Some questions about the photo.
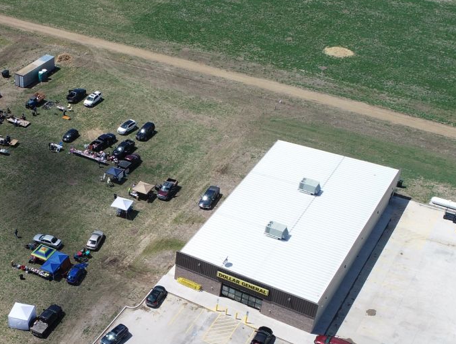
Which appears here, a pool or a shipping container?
shipping container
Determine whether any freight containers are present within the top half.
Yes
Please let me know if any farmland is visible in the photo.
Yes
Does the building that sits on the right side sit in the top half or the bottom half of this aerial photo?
bottom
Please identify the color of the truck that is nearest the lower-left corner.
black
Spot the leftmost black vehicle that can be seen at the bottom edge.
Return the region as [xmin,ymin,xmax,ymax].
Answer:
[29,304,64,338]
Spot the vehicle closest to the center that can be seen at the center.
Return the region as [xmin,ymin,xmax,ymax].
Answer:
[201,186,221,209]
